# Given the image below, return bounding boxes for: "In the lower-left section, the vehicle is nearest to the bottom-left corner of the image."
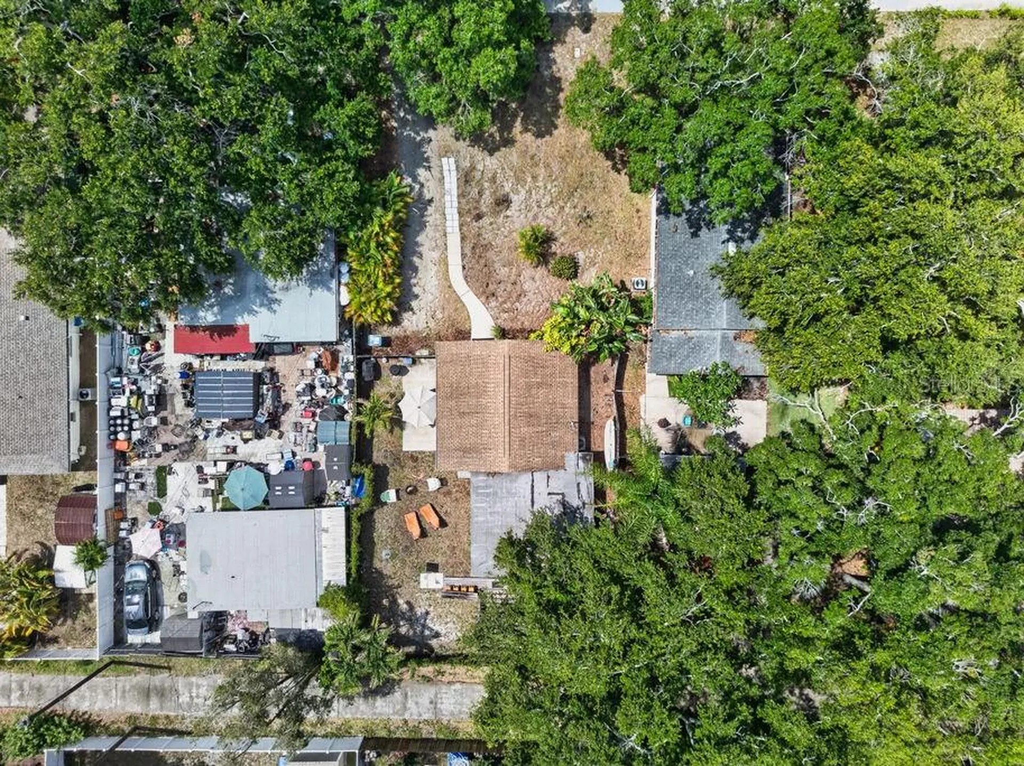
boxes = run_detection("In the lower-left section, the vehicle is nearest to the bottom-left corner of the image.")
[115,562,156,635]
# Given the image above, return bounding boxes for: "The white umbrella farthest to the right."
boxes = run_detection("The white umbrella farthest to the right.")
[399,386,434,428]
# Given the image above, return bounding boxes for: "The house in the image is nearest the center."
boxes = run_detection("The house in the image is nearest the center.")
[434,341,580,473]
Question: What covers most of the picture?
trees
